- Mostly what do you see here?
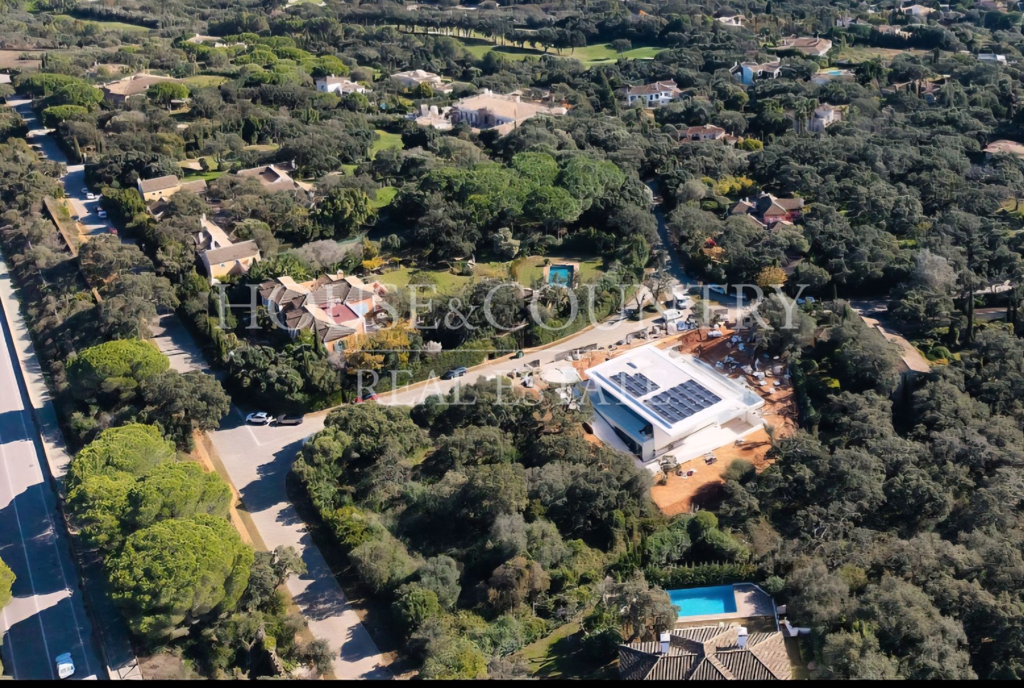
trees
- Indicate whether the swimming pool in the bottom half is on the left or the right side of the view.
right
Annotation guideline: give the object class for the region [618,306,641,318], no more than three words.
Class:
vehicle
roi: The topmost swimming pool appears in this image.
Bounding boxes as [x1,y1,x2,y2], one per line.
[812,69,853,84]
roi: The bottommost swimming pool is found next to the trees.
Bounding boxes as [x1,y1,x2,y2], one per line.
[660,583,775,631]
